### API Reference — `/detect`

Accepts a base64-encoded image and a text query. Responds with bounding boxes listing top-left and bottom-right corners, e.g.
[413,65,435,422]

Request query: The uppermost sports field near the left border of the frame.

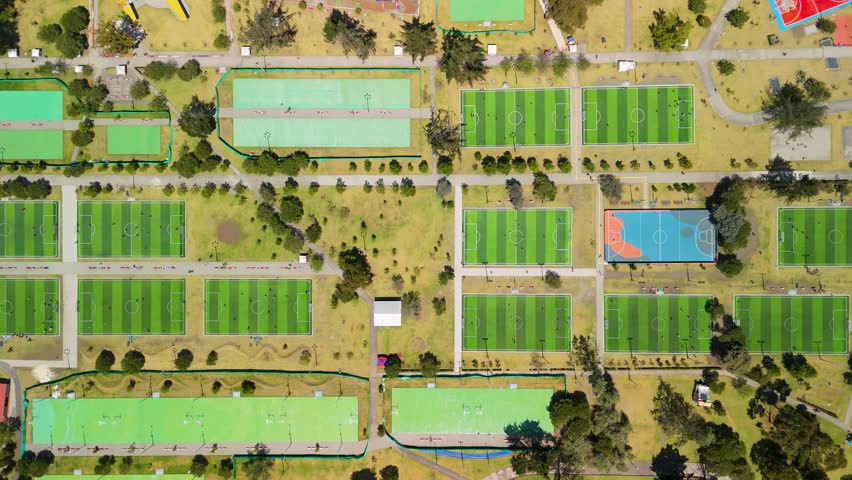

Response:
[0,91,63,120]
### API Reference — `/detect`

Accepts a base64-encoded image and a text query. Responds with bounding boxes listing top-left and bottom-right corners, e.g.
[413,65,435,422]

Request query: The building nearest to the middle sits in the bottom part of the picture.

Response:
[374,300,401,326]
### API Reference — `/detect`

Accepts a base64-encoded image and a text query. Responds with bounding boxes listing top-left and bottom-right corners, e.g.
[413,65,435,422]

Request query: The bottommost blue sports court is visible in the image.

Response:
[603,210,720,265]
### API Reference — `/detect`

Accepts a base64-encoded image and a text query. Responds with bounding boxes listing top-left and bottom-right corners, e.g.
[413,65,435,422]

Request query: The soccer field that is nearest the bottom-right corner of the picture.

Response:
[734,295,850,354]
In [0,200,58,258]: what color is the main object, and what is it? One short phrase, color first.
green soccer field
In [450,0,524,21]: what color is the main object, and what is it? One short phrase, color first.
green sports field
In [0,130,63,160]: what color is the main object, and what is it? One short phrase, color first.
green sports field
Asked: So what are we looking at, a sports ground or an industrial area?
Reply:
sports ground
